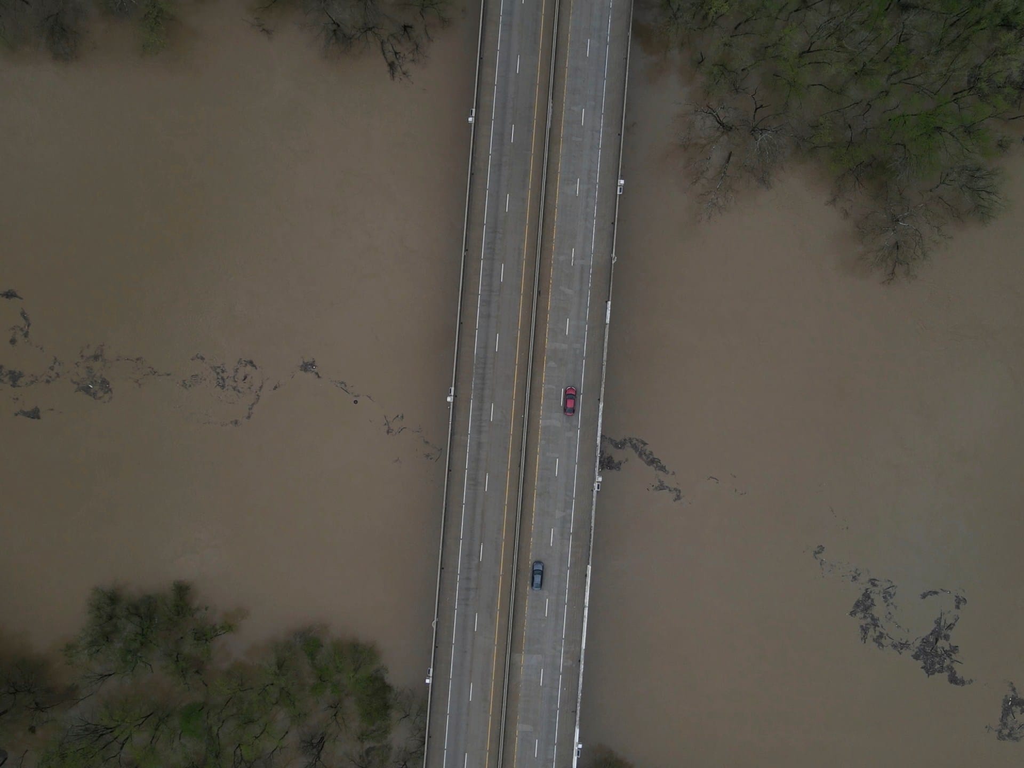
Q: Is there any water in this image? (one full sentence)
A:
Yes, water shows up in the scene.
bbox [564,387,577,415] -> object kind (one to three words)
vehicle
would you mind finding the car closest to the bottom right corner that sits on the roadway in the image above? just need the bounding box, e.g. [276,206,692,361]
[532,562,544,591]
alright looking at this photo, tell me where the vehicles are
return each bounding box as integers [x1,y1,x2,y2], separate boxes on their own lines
[532,562,544,591]
[564,387,577,415]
